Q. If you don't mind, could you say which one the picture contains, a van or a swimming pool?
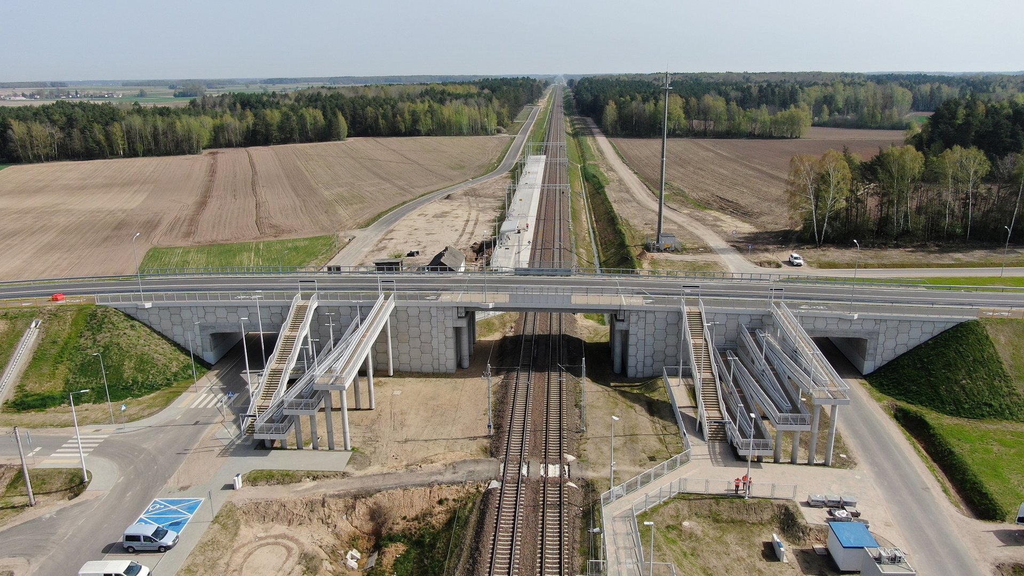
van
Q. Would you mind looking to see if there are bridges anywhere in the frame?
Yes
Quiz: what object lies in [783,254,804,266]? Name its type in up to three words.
vehicle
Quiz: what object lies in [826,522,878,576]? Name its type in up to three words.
building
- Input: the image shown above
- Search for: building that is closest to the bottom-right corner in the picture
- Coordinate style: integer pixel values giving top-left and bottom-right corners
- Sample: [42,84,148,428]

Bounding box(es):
[866,542,917,576]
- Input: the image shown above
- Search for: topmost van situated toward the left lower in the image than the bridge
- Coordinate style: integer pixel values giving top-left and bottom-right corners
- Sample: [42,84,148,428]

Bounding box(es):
[121,521,185,552]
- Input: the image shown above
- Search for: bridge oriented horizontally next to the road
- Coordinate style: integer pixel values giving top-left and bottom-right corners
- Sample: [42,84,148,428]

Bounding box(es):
[100,275,988,372]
